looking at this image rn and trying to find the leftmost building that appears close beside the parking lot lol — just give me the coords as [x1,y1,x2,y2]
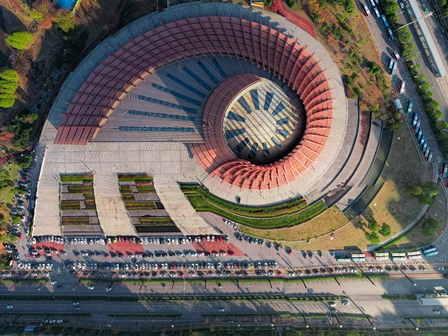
[32,3,383,238]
